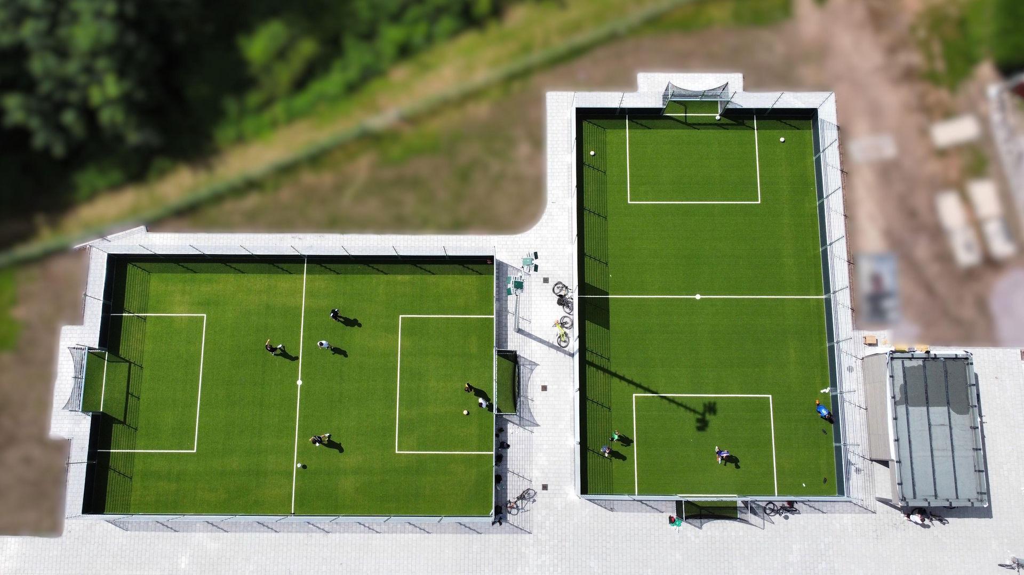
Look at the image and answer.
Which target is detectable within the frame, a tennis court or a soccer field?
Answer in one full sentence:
I can see a soccer field in this picture.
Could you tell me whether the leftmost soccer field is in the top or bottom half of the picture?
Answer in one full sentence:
It is in the bottom half that the leftmost soccer field appears.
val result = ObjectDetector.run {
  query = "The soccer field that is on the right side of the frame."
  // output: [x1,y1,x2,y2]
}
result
[573,99,837,516]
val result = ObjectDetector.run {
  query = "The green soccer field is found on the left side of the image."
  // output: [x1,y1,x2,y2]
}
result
[83,258,513,513]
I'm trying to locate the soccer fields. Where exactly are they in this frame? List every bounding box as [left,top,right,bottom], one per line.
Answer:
[83,258,513,513]
[573,99,837,516]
